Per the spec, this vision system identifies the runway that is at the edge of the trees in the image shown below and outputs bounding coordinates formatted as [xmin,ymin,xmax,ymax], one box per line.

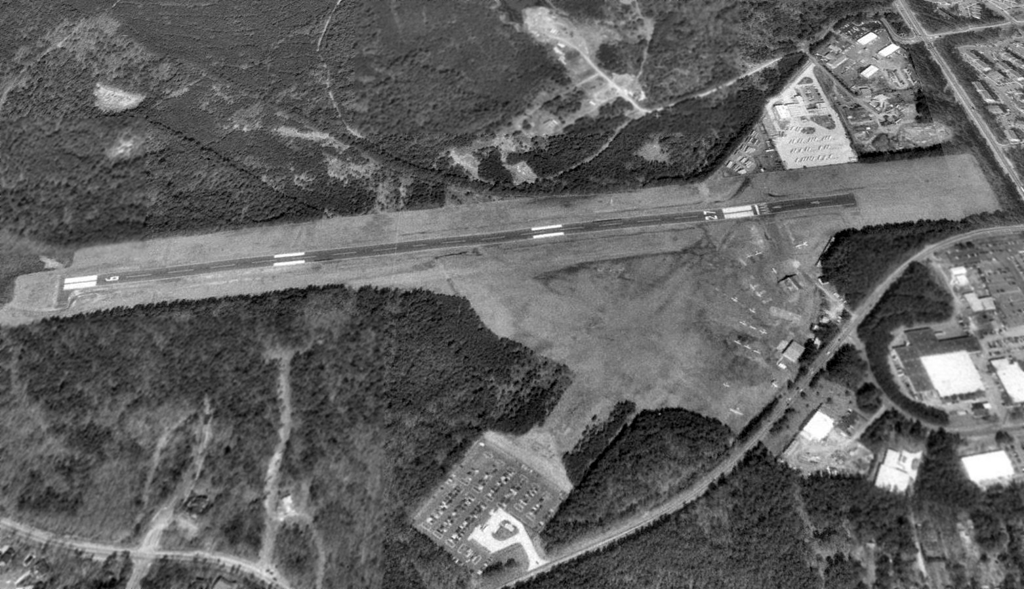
[59,193,854,305]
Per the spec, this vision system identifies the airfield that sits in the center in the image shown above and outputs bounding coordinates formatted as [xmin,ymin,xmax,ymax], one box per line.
[0,154,1002,490]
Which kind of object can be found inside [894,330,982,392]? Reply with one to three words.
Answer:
building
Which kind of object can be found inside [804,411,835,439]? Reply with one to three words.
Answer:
building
